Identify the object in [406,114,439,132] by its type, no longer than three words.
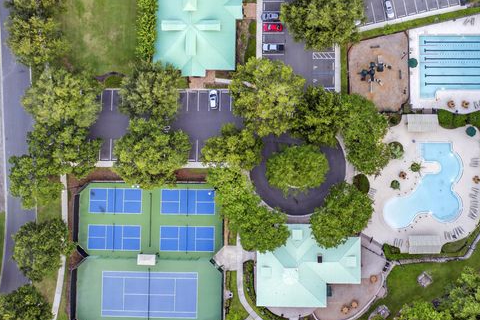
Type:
building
